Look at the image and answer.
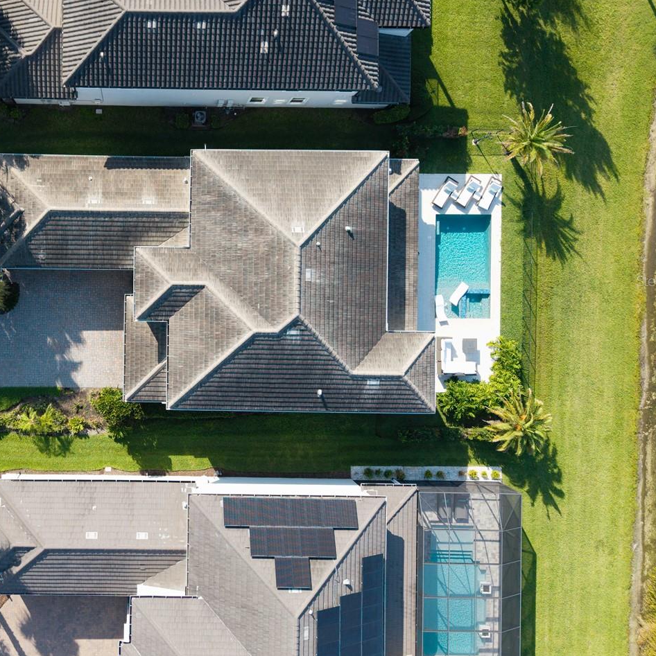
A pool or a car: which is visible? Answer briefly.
pool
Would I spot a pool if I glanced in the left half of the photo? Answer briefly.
No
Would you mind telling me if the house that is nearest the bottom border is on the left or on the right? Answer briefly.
left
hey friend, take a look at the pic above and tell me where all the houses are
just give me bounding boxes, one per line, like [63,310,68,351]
[0,144,437,415]
[0,0,433,109]
[0,475,419,656]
